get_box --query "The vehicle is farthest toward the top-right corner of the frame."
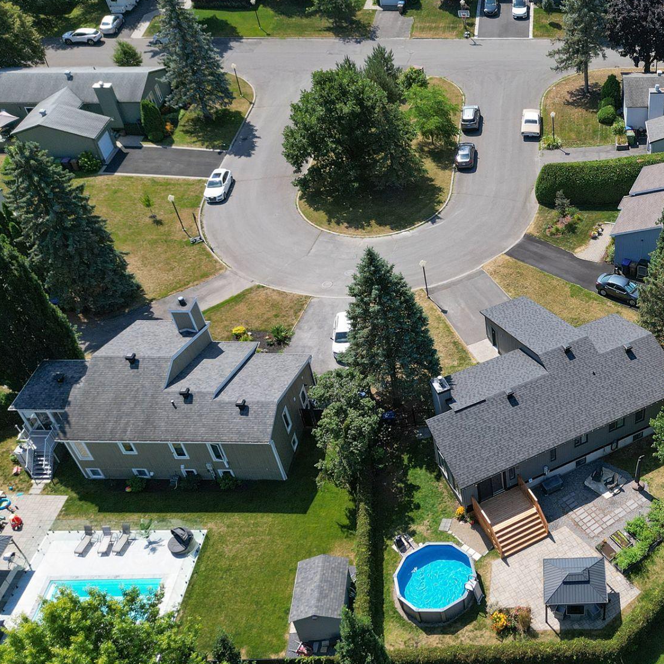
[511,0,528,15]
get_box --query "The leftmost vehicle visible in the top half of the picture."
[62,25,105,43]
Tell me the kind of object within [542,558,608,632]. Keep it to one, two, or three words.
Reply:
gazebo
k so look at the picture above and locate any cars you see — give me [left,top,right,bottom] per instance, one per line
[482,0,498,14]
[327,308,363,361]
[511,0,528,15]
[460,107,481,132]
[62,25,105,43]
[520,112,542,139]
[142,28,180,45]
[451,144,478,171]
[591,271,655,306]
[197,170,239,203]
